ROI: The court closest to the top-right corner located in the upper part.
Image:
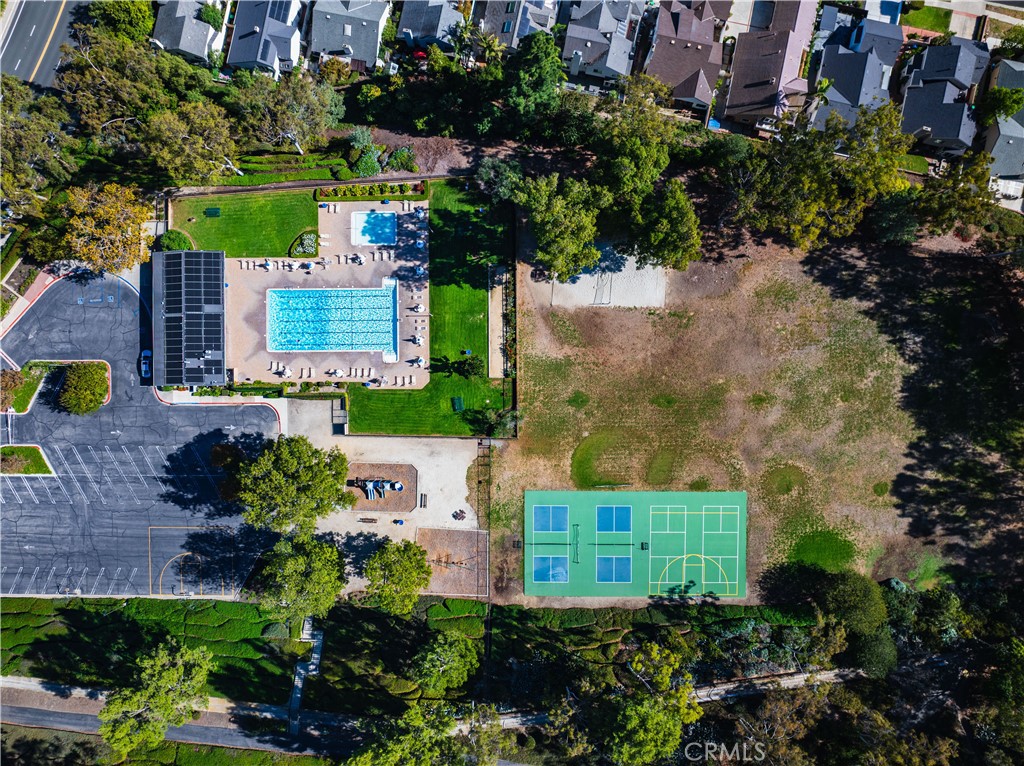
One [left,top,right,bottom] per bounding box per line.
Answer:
[552,245,668,307]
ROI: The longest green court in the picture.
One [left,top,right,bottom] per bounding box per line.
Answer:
[524,490,747,598]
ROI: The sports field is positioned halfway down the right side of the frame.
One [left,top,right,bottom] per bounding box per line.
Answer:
[489,232,1024,601]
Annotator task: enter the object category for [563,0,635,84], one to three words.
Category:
house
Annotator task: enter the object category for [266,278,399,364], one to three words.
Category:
swimming pool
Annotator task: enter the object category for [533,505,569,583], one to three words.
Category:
sports court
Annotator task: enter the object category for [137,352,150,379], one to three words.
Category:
vehicle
